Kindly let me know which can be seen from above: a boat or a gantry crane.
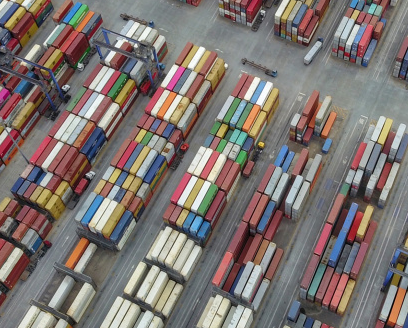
gantry crane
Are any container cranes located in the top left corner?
Yes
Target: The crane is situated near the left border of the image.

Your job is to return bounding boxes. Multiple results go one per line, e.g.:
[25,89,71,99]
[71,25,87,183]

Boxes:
[0,45,68,116]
